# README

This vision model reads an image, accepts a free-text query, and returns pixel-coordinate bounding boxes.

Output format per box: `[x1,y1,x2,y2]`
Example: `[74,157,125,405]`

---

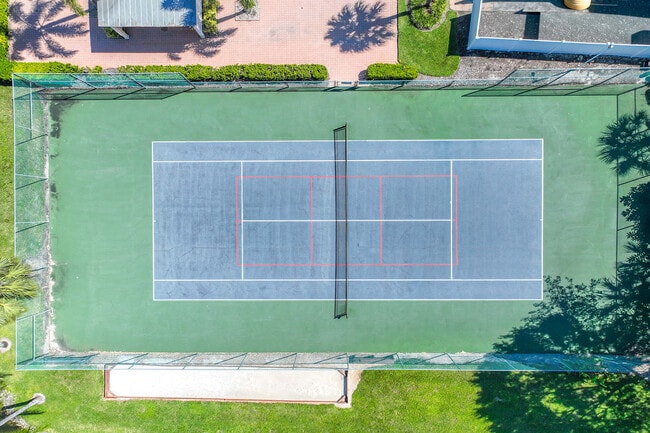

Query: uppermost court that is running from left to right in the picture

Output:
[46,85,650,352]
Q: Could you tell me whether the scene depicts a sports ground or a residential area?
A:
sports ground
